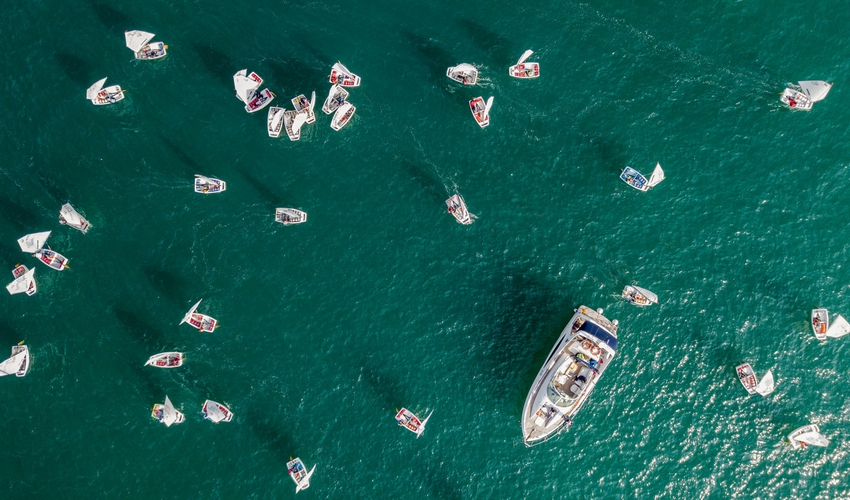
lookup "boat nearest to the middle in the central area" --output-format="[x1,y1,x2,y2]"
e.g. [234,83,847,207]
[445,192,471,226]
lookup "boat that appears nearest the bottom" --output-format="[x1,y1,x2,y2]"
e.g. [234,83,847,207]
[286,453,317,495]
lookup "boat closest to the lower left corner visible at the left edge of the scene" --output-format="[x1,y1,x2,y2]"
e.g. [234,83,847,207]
[0,341,31,377]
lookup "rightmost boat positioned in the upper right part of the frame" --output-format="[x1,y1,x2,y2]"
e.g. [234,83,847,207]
[774,79,832,110]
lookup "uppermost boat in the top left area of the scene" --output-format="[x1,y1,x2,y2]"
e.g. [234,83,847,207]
[125,29,173,60]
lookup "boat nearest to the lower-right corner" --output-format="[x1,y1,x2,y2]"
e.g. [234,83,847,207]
[782,424,834,449]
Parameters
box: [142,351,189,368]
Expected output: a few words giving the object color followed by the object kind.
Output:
white boat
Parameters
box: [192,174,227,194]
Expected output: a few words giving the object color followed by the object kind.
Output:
white boat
